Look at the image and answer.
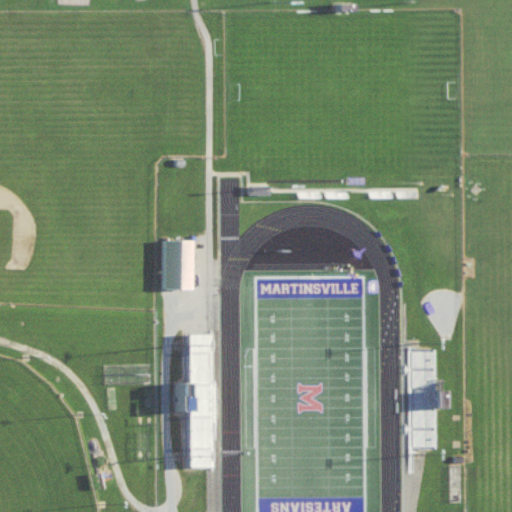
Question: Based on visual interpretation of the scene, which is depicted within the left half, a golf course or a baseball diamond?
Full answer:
The feature located within the left half is a baseball diamond.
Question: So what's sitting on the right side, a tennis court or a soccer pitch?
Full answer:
You can see a soccer pitch on the right side.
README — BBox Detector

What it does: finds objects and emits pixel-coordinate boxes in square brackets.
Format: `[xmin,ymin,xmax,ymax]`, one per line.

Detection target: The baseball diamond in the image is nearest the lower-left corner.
[0,355,100,512]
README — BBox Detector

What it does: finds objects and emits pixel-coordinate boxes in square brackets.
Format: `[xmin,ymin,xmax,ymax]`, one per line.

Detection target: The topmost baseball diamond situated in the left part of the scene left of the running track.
[0,186,36,270]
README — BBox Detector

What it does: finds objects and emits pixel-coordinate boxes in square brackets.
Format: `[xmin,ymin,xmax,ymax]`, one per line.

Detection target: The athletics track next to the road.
[220,178,400,512]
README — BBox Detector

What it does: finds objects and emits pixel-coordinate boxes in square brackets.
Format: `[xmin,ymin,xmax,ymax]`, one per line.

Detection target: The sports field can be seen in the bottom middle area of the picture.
[240,271,380,512]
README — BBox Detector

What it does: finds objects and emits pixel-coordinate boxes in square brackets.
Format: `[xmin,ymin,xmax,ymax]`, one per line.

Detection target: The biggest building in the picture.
[163,240,196,291]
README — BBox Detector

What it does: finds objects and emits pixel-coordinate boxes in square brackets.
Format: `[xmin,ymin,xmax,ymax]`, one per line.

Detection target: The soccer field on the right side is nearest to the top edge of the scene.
[225,12,460,178]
